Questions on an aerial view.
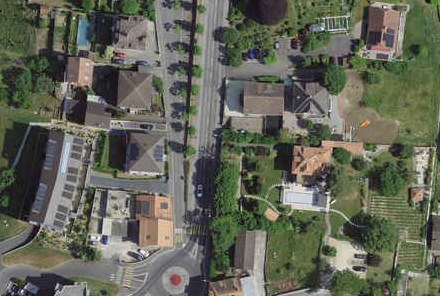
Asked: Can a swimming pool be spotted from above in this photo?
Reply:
Yes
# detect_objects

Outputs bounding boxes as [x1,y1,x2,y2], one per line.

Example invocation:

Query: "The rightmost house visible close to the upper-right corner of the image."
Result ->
[366,8,400,52]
